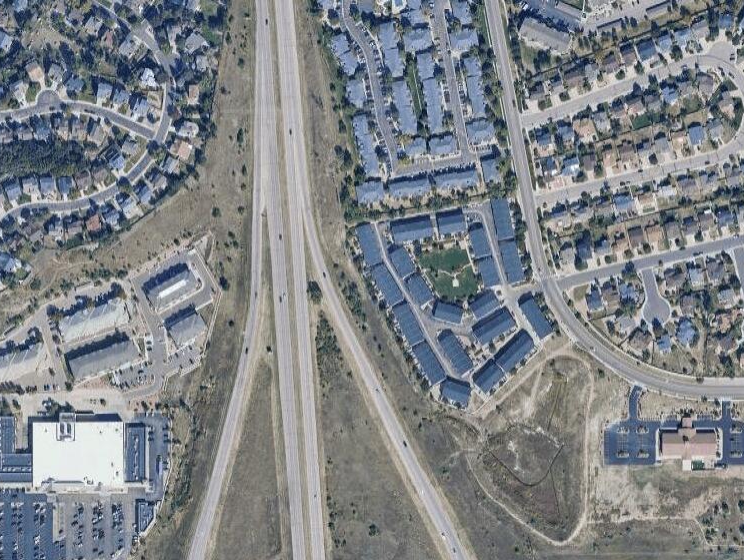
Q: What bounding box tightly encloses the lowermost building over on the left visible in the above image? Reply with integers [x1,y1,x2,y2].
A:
[139,502,154,533]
